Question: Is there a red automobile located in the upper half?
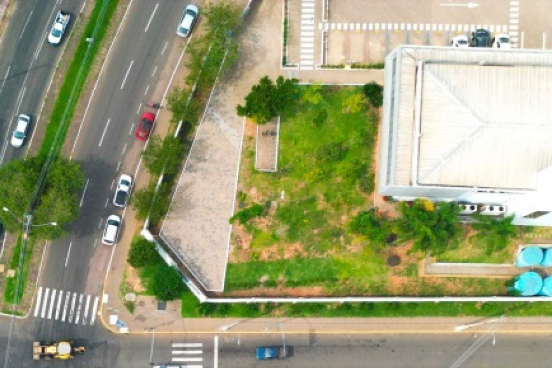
Yes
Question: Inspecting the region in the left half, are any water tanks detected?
No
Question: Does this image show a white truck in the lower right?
No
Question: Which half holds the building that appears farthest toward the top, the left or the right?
right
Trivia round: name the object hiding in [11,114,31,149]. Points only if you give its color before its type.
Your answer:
white car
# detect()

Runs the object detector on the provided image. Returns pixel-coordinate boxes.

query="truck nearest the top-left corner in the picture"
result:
[48,9,70,48]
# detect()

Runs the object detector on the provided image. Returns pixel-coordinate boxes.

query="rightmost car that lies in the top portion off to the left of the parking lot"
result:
[175,4,197,40]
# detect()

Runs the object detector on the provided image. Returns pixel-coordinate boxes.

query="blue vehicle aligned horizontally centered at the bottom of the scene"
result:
[255,343,291,360]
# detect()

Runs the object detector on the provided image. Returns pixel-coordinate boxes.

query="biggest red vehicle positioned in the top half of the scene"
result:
[133,110,156,143]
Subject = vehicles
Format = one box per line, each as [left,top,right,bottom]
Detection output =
[492,35,512,45]
[470,29,492,45]
[175,4,197,40]
[101,214,122,247]
[152,362,181,368]
[133,110,156,143]
[34,342,87,360]
[11,114,31,149]
[451,35,470,45]
[48,9,70,48]
[255,343,291,360]
[111,173,133,209]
